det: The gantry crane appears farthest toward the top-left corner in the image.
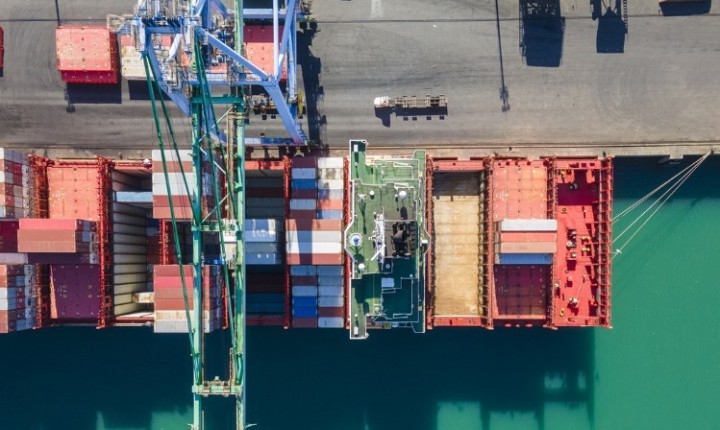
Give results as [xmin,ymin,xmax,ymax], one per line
[101,0,331,430]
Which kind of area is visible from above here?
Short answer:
port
